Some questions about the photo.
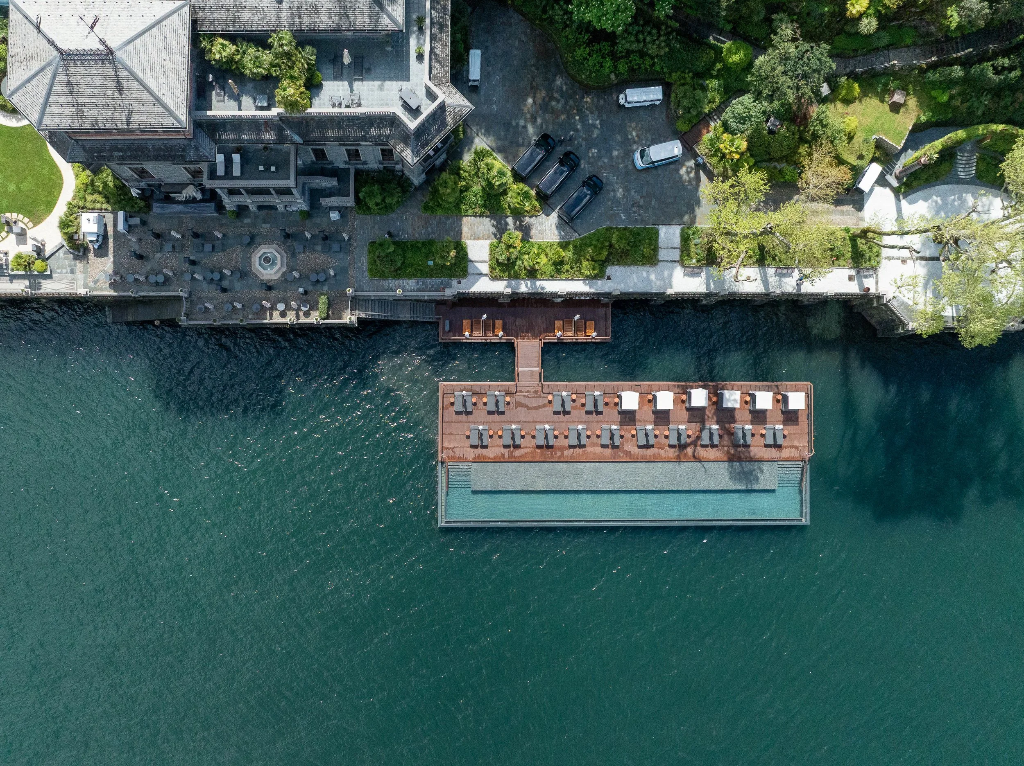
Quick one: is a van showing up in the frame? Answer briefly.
Yes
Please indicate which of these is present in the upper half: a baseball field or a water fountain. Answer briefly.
water fountain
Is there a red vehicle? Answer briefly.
No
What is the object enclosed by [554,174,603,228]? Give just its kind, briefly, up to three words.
van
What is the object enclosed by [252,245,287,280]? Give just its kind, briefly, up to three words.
fountain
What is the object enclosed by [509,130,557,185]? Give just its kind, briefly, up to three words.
van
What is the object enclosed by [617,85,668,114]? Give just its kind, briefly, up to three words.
vehicle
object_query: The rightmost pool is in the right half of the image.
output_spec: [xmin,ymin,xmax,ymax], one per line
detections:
[439,368,813,526]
